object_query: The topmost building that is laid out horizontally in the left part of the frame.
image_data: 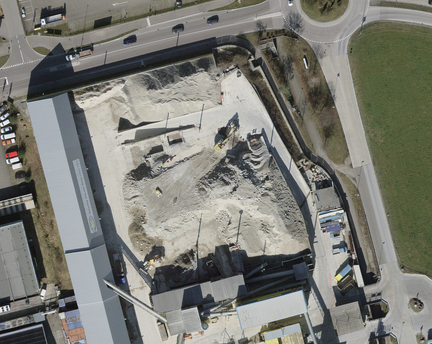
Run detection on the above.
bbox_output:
[0,194,36,216]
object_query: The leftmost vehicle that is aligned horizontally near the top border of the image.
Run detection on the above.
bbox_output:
[40,14,66,26]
